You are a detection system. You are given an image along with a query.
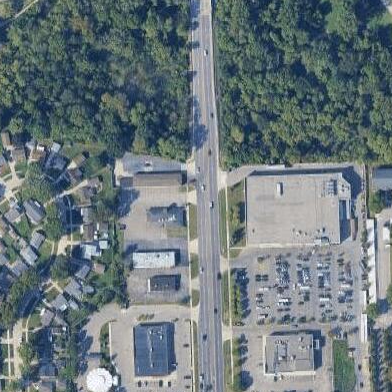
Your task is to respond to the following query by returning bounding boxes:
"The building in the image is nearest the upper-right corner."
[372,168,392,189]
